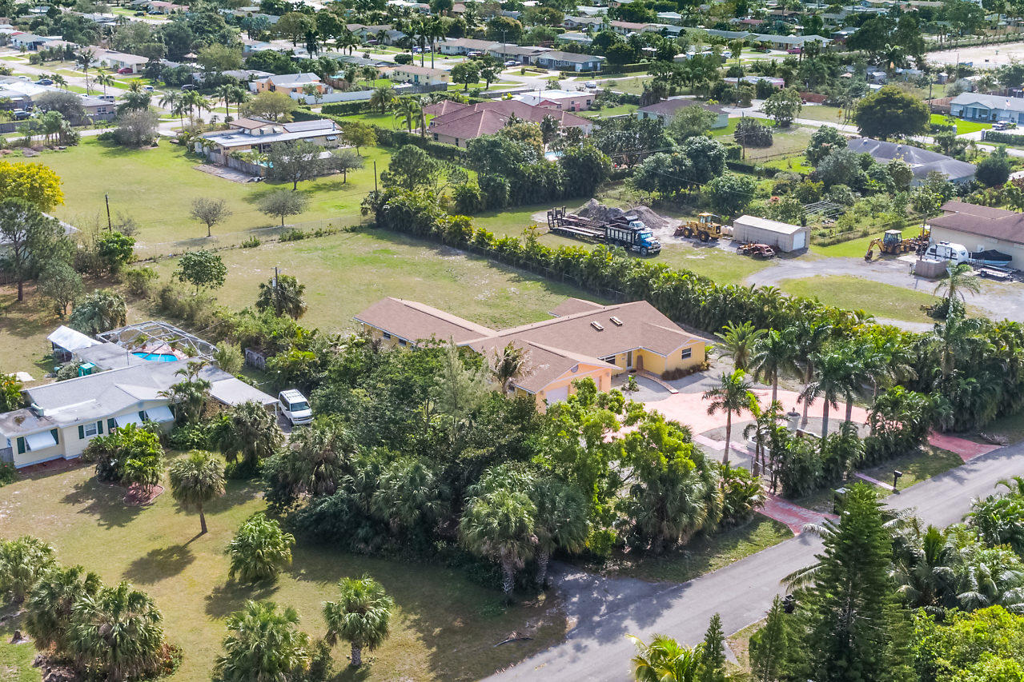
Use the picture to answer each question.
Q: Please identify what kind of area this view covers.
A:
residential area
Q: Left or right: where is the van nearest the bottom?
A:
left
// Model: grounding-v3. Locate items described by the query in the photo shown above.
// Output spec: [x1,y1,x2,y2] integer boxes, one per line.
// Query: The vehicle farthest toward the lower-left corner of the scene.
[280,384,314,421]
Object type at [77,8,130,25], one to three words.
house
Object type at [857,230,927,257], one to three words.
work vehicle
